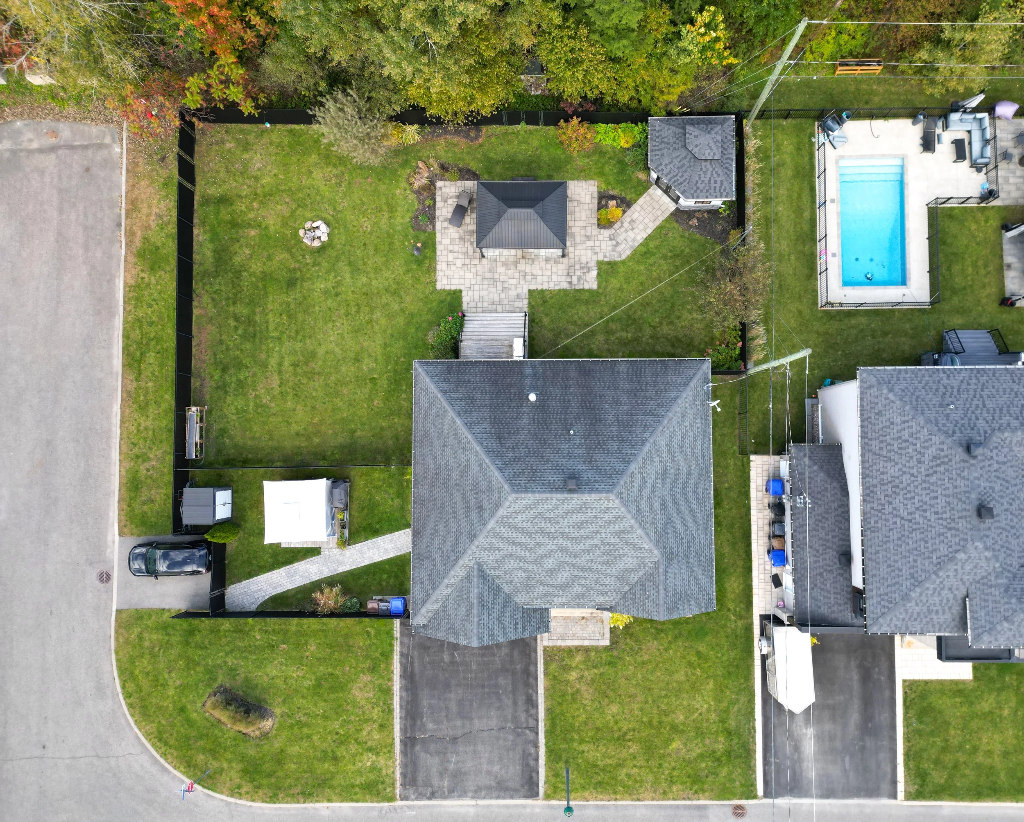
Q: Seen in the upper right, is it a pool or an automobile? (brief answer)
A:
pool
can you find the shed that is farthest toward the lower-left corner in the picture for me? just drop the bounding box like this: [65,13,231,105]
[179,487,233,524]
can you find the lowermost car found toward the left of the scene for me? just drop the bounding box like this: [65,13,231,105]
[131,541,211,583]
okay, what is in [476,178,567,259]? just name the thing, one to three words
gazebo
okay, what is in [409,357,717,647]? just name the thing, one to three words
house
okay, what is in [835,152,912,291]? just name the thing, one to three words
swimming pool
